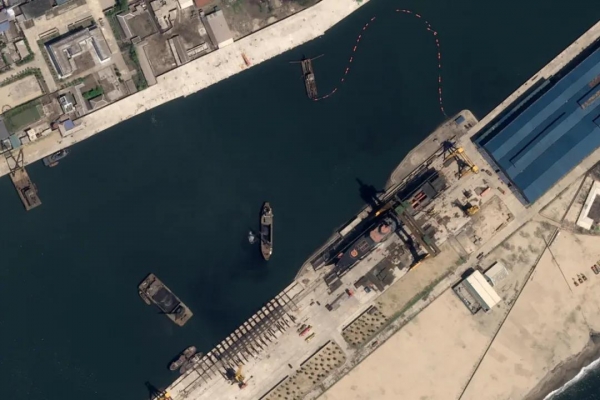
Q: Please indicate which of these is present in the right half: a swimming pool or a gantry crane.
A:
gantry crane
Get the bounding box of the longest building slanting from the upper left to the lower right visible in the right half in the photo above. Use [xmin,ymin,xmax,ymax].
[464,270,502,310]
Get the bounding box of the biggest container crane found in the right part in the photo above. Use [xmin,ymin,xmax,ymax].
[372,184,440,272]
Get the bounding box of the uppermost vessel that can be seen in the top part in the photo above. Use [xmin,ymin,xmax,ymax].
[291,55,322,99]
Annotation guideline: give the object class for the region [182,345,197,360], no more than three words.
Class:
boat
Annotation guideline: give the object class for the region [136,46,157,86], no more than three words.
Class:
shed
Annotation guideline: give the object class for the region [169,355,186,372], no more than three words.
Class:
boat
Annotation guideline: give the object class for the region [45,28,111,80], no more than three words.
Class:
building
